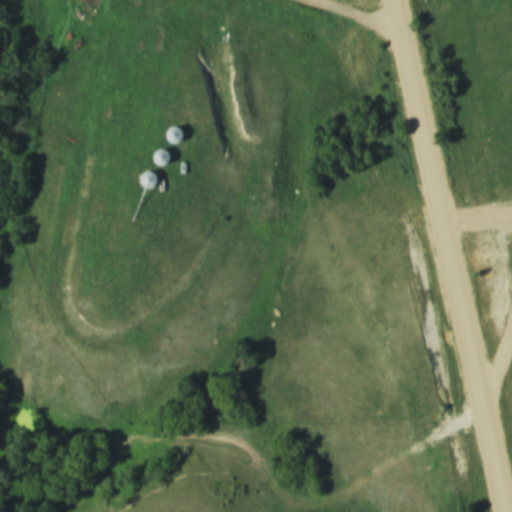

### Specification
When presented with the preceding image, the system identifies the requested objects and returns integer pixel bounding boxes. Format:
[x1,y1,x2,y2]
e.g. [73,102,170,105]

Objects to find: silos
[166,126,184,144]
[139,170,158,189]
[152,148,170,167]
